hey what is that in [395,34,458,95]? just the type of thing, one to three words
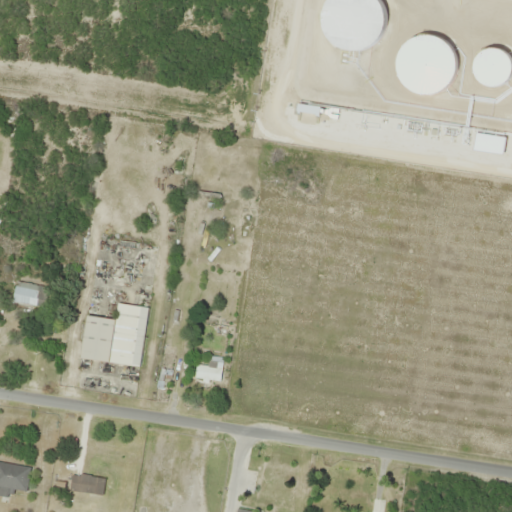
storage tank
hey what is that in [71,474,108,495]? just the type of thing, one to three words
house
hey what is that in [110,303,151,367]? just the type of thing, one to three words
building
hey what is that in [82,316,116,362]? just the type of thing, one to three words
building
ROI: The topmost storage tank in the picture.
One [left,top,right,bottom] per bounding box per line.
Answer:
[322,0,389,53]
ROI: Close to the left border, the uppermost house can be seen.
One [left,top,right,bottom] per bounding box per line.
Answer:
[14,282,47,308]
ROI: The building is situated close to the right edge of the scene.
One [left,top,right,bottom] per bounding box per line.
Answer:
[474,134,506,154]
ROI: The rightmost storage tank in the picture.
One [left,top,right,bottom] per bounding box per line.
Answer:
[471,48,512,88]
